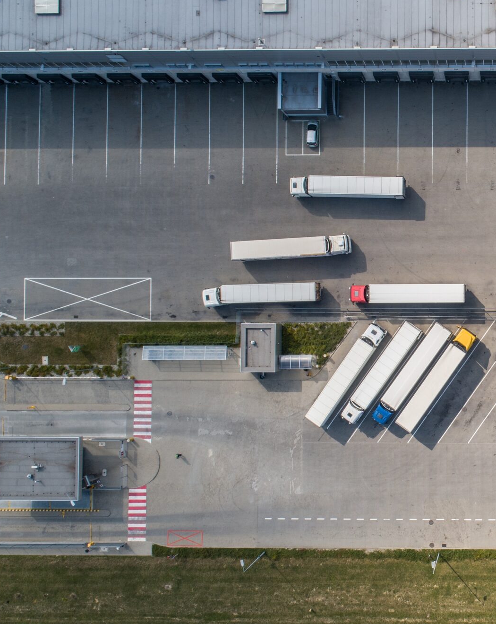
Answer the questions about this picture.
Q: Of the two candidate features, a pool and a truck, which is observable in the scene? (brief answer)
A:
truck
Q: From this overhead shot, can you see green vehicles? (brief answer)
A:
No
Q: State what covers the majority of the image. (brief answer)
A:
paved ground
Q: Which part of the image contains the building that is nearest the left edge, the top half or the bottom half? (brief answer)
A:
bottom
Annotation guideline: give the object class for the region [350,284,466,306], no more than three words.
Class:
truck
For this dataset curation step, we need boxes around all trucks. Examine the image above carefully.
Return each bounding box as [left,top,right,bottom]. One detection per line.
[230,233,357,261]
[350,284,466,306]
[370,323,453,425]
[394,326,478,433]
[289,175,406,199]
[340,320,423,425]
[305,320,389,427]
[202,282,321,310]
